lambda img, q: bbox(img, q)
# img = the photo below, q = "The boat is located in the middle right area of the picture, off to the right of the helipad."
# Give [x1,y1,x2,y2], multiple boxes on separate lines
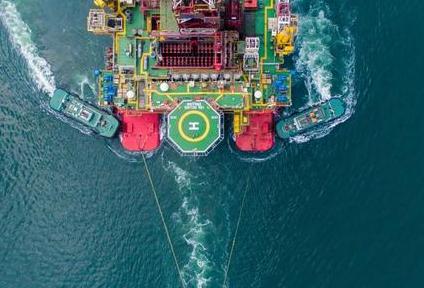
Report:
[276,97,347,141]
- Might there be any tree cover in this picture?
No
